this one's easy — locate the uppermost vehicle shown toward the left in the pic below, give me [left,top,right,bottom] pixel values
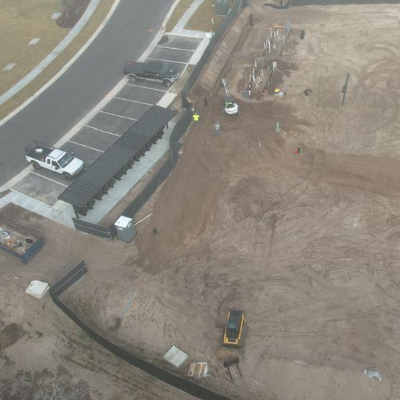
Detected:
[122,62,181,86]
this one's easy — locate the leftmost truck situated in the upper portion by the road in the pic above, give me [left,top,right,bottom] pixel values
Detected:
[23,142,86,177]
